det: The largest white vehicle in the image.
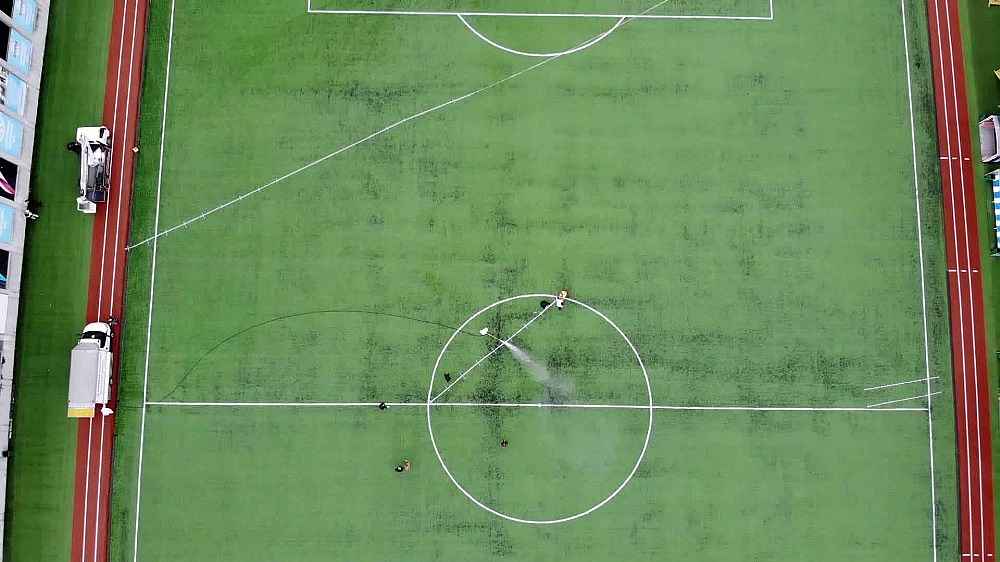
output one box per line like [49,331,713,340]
[67,322,116,418]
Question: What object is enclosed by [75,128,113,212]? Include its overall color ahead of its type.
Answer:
white truck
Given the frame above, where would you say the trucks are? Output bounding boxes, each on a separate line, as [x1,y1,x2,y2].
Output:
[67,322,116,418]
[75,128,113,212]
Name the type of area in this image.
sports ground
